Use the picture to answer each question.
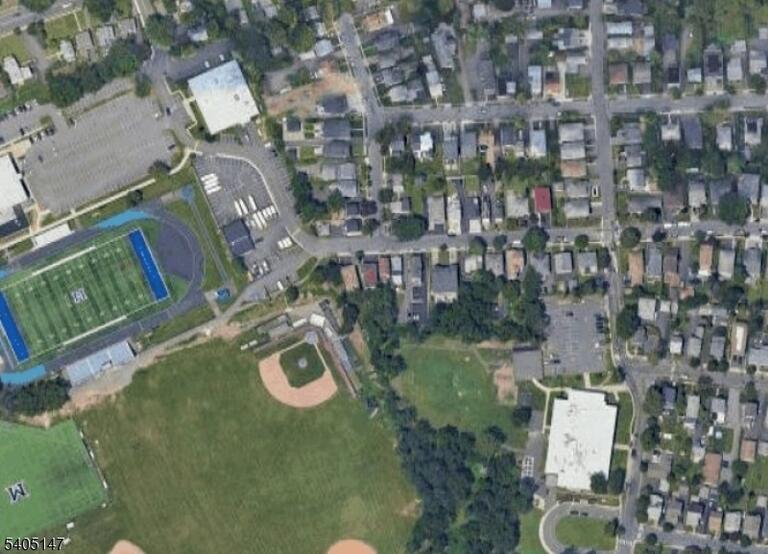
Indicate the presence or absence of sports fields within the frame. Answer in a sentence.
Yes, looking at the shot, I can spot a sports field.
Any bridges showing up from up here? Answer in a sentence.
No, I can't see a single bridge in this photo.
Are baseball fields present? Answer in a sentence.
Yes, you can see a baseball field in this photo.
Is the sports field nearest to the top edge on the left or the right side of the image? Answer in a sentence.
You can find the sports field nearest to the top edge on the left side of the picture.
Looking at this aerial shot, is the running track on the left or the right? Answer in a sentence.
It is on the left.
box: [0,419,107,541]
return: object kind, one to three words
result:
sports field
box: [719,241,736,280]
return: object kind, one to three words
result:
house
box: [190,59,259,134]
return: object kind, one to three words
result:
building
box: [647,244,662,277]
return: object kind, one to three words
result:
house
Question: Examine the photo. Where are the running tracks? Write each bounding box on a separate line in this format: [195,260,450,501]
[0,209,206,385]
